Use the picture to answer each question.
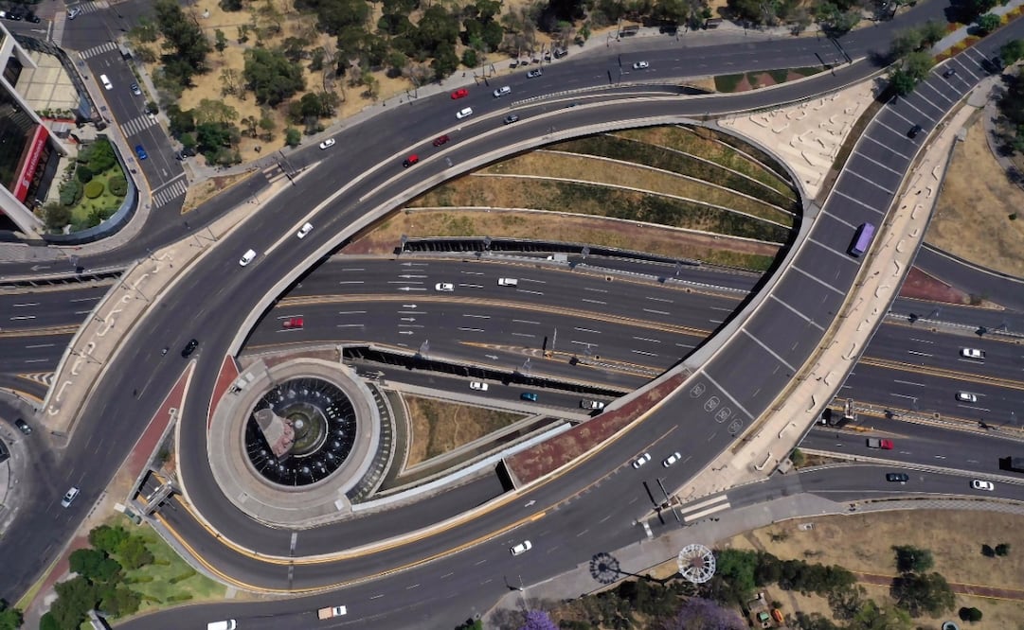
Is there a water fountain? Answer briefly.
Yes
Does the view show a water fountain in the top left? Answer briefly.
No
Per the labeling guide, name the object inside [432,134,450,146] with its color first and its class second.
red vehicle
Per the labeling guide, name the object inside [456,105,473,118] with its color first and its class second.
white vehicle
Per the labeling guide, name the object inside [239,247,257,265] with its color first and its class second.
white vehicle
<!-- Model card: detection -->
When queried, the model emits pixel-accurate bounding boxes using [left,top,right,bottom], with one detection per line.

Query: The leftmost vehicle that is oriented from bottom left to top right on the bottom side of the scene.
[60,485,80,508]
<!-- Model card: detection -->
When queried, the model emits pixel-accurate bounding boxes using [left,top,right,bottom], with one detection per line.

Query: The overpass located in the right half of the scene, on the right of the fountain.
[516,48,991,489]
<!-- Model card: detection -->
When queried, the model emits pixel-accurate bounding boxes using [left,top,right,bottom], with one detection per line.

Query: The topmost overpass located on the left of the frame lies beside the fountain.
[90,206,393,390]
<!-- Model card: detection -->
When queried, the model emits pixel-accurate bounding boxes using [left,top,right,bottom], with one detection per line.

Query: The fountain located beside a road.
[206,357,379,527]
